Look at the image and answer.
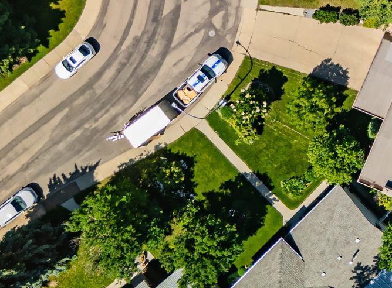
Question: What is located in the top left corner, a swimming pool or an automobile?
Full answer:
There is an automobile in the top left corner.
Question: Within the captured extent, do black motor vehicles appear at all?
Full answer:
No, no black motor vehicle can be seen from above.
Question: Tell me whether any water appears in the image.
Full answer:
No, water can't be seen anywhere here.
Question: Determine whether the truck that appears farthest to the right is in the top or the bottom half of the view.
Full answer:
It is in the top half that the truck that appears farthest to the right appears.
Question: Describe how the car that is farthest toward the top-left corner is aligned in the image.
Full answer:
From this overhead view, the car that is farthest toward the top-left corner appears to run on a diagonal.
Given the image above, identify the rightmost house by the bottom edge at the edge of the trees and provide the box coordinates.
[239,181,392,288]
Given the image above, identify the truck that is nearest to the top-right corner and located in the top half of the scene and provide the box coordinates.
[169,55,224,112]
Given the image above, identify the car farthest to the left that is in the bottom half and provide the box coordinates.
[0,190,34,227]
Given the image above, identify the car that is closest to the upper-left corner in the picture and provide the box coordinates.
[54,39,95,81]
